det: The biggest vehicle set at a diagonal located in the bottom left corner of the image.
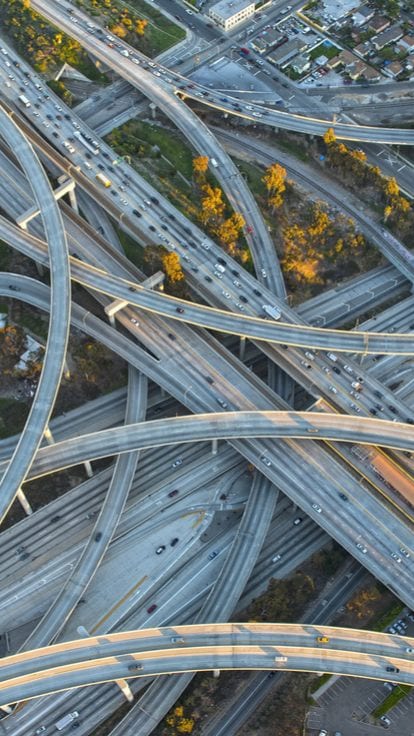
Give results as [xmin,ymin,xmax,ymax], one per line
[57,713,77,730]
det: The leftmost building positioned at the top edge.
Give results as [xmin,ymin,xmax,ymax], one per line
[208,0,245,31]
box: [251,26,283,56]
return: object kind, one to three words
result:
building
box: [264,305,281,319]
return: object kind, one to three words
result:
vehicle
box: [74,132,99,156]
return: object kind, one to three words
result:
truck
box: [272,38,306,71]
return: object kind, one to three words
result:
building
